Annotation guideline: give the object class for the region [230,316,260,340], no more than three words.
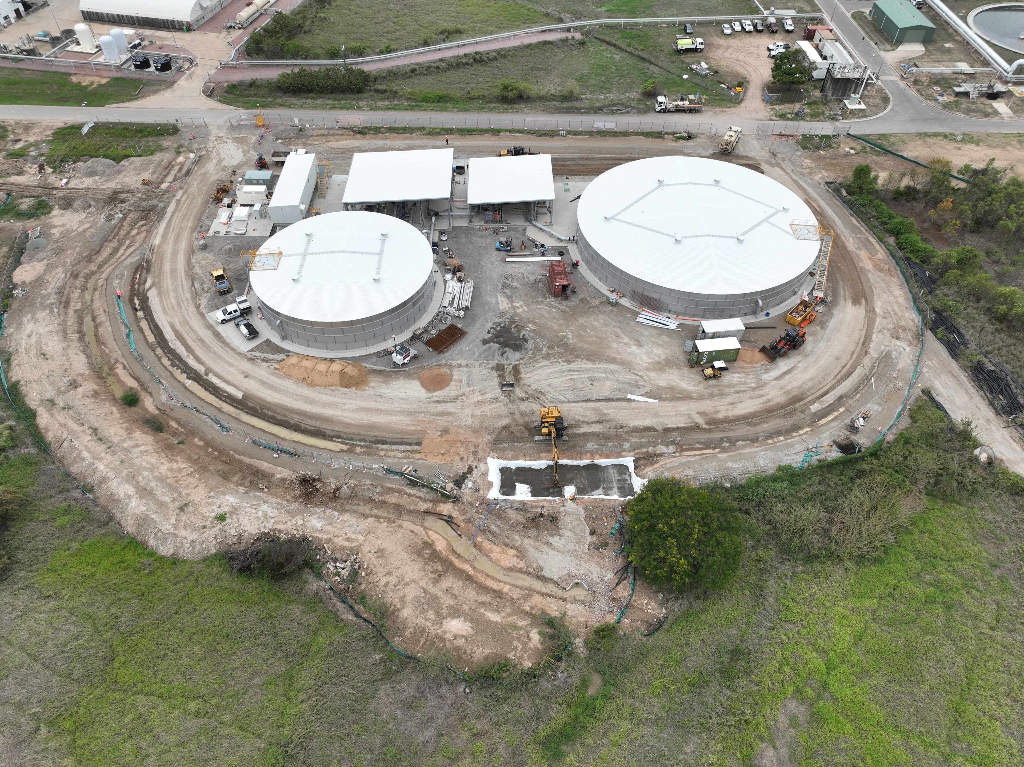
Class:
truck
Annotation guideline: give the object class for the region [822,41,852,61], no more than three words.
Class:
building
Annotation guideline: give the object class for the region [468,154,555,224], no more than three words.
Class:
shed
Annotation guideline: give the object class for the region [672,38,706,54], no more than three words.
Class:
vehicle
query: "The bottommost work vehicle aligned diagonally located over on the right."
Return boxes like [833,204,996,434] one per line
[764,327,811,361]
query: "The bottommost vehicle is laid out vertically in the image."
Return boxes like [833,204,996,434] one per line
[534,403,571,486]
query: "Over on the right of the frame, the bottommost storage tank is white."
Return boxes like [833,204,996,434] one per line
[567,150,834,326]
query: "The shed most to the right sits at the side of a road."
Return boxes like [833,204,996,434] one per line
[867,0,937,46]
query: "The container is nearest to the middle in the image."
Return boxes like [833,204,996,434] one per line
[549,261,574,301]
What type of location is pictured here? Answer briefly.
industrial area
